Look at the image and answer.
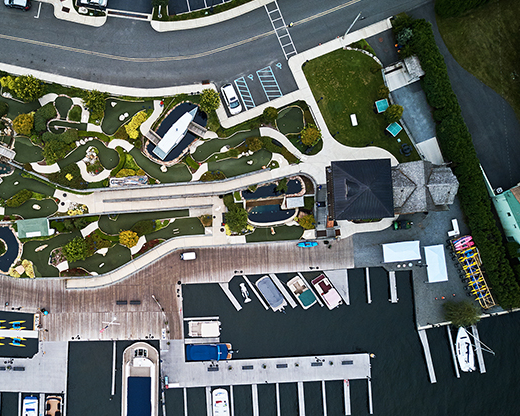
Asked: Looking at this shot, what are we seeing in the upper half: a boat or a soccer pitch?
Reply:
boat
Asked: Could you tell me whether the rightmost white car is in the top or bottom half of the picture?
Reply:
top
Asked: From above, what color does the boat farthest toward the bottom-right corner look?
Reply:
white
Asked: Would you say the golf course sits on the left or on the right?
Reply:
left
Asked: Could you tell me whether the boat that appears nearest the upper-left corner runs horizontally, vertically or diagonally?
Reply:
diagonally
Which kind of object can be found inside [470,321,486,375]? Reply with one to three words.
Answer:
pier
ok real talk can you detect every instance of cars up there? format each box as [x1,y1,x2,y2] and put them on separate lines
[220,82,241,116]
[80,0,110,9]
[3,0,32,12]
